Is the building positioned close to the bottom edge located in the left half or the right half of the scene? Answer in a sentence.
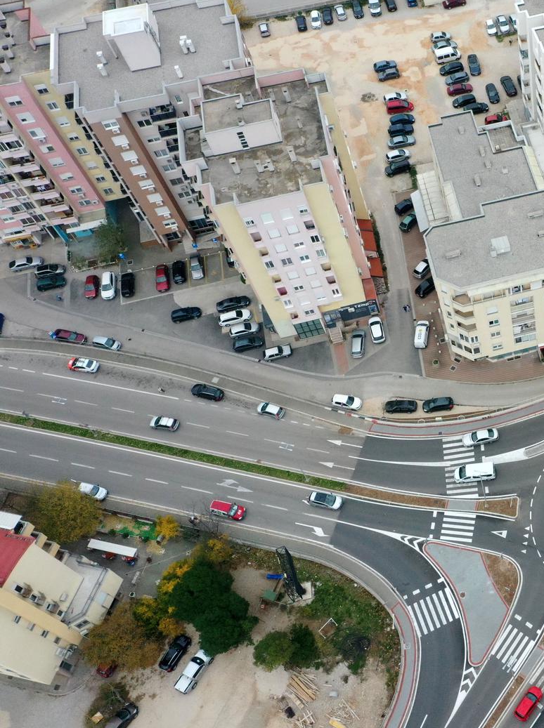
The building positioned close to the bottom edge sits on the left side.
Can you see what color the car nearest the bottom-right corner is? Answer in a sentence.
From above, the car nearest the bottom-right corner appears red.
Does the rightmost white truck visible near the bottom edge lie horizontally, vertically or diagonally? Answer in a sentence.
In this picture, the rightmost white truck visible near the bottom edge is oriented diagonally.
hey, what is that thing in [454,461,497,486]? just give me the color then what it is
white vehicle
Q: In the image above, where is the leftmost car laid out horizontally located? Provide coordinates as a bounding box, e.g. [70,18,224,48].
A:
[8,253,44,273]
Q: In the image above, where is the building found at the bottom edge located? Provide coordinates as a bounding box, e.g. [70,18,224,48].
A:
[0,510,120,701]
